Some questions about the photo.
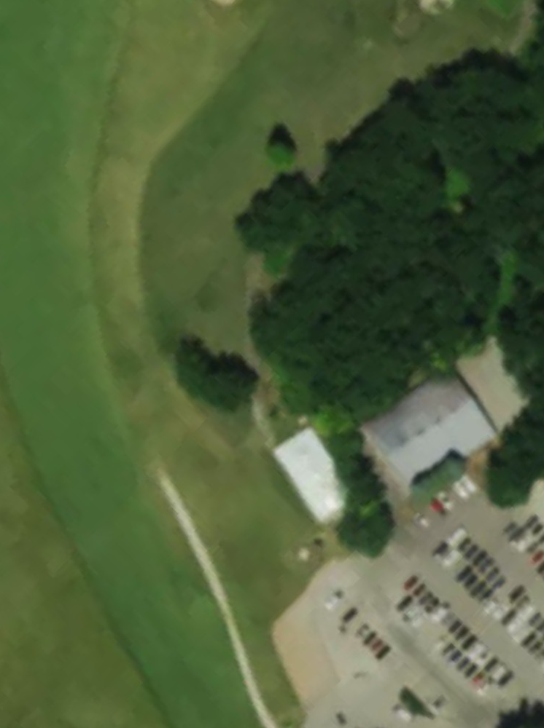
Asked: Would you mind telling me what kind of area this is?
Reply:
golf course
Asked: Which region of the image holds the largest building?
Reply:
right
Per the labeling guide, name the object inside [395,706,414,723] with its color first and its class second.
white vehicle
